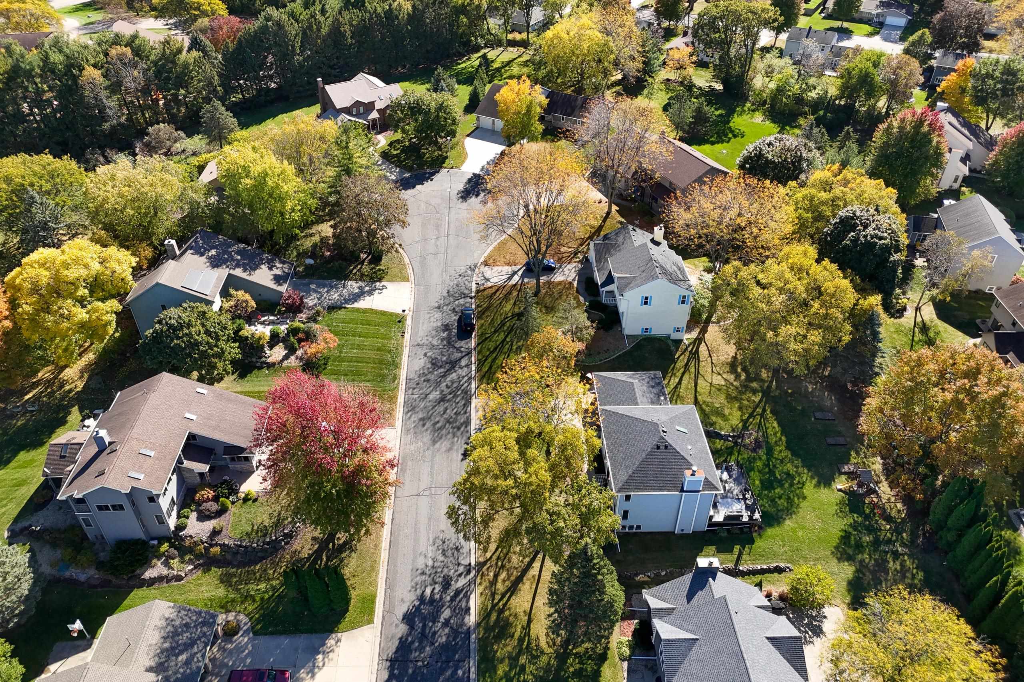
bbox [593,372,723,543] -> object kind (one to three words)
house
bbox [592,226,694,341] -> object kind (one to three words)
house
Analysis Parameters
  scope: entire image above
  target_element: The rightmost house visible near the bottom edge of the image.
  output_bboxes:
[631,548,810,682]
